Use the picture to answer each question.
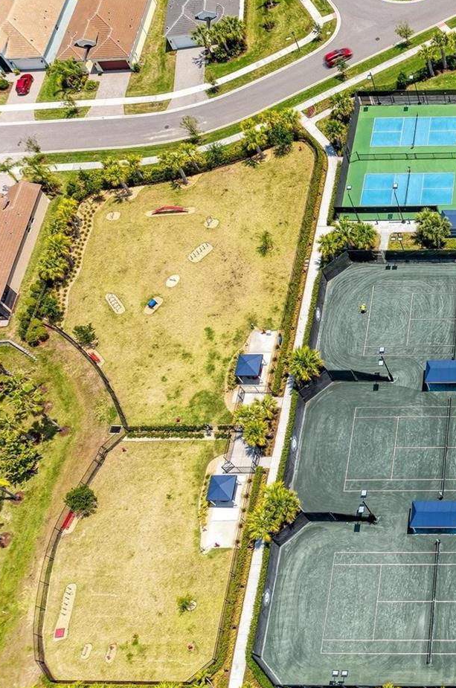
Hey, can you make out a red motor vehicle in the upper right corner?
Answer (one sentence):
Yes, you'll find a red motor vehicle in the upper right corner.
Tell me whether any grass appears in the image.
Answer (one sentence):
Yes, there is grass in the image.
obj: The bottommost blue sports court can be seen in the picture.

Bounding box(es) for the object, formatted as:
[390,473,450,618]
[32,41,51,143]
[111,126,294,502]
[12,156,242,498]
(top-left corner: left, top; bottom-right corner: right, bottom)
[334,159,456,218]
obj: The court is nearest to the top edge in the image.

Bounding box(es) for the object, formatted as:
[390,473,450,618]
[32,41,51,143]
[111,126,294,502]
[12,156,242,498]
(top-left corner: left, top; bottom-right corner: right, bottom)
[348,105,456,160]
